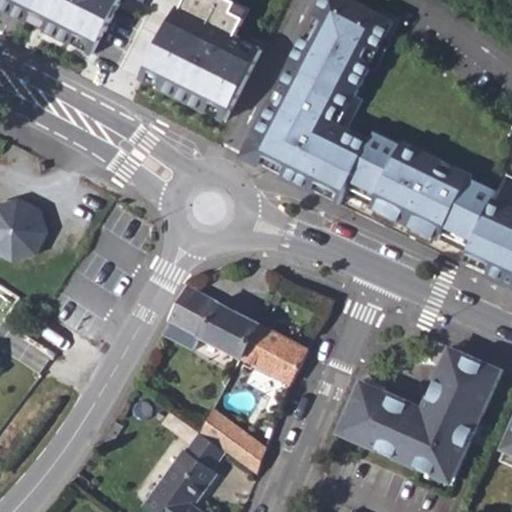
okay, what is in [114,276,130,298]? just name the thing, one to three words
car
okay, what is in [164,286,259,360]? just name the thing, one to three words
house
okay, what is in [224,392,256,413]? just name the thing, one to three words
swimming pool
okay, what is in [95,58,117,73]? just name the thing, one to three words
car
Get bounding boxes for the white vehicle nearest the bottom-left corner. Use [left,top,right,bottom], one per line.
[41,330,70,351]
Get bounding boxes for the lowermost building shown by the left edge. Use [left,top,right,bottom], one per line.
[0,192,50,266]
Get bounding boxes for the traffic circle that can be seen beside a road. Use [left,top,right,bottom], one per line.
[160,156,270,282]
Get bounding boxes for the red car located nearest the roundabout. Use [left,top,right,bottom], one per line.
[333,223,355,238]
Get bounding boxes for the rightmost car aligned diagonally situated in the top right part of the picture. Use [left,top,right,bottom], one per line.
[473,71,492,89]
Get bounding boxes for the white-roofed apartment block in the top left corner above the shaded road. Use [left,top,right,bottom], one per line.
[0,0,114,54]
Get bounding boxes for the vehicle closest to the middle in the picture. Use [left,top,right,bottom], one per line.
[302,228,326,244]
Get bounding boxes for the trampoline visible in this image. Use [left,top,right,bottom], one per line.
[134,400,153,420]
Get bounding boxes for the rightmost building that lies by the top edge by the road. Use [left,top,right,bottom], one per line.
[240,0,396,202]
